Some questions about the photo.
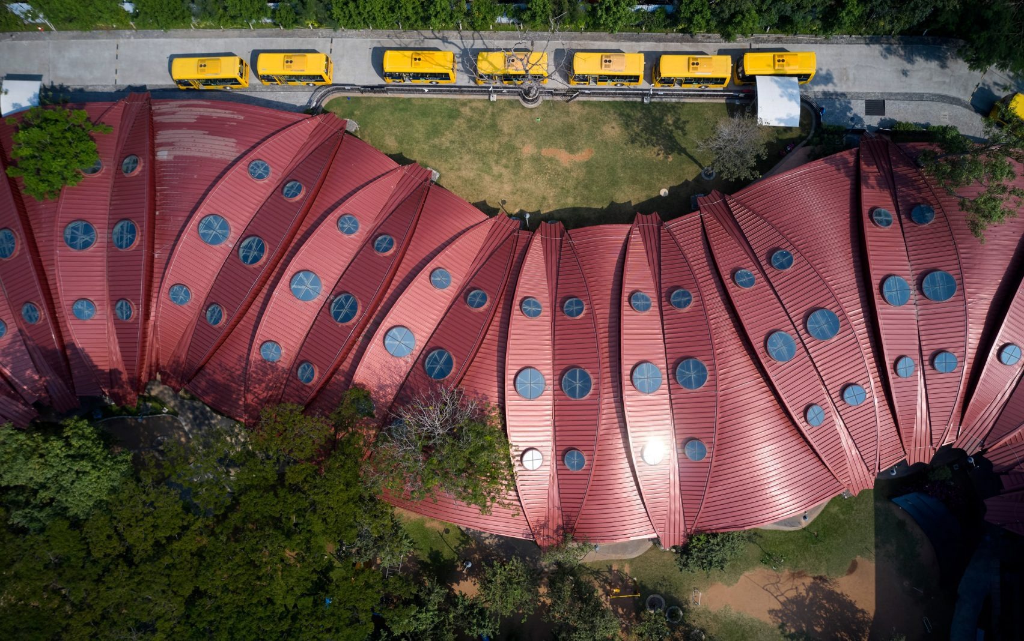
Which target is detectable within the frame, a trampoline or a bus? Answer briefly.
bus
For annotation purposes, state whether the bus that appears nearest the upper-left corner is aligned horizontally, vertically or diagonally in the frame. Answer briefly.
horizontally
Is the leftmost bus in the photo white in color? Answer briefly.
No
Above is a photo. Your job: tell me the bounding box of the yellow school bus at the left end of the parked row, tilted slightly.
[170,56,255,92]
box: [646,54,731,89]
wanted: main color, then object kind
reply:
yellow bus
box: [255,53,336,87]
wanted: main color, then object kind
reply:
yellow bus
